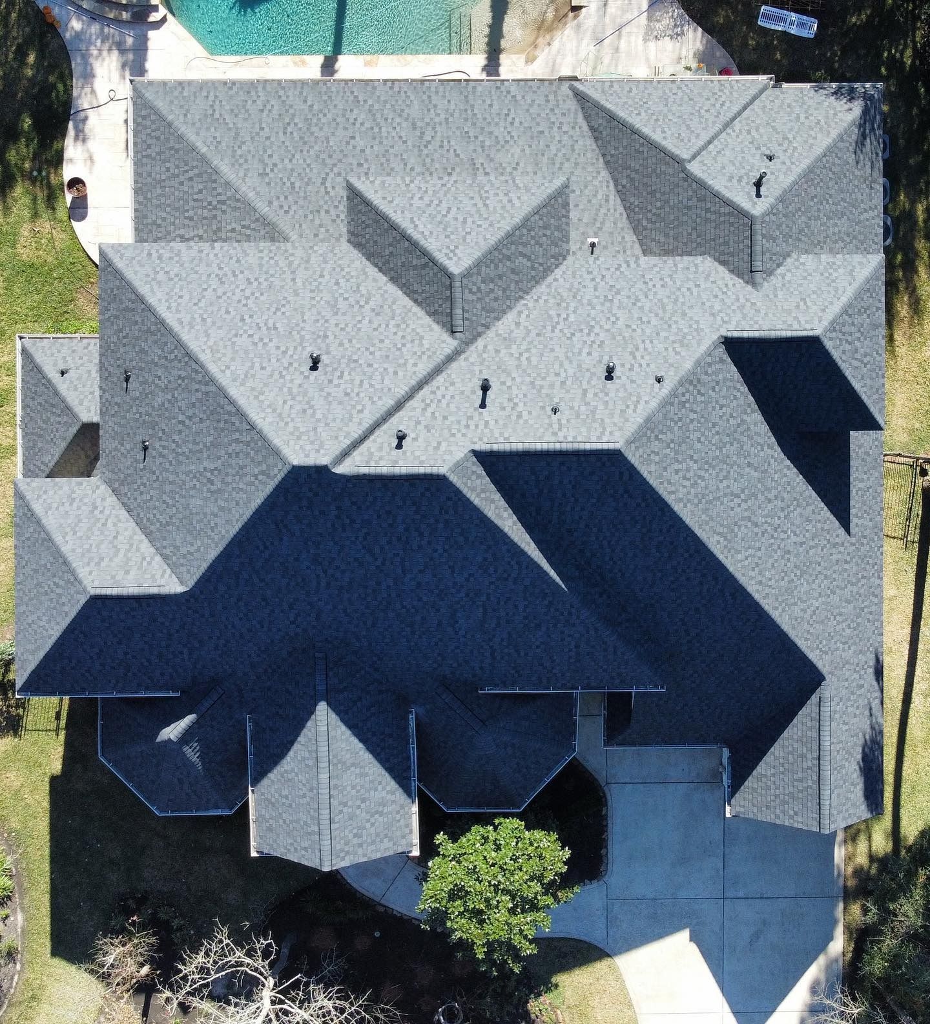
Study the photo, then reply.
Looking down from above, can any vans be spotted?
No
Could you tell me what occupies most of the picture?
buildings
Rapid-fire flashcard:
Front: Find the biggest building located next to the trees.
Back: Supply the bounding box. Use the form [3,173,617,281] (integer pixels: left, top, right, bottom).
[13,74,886,872]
